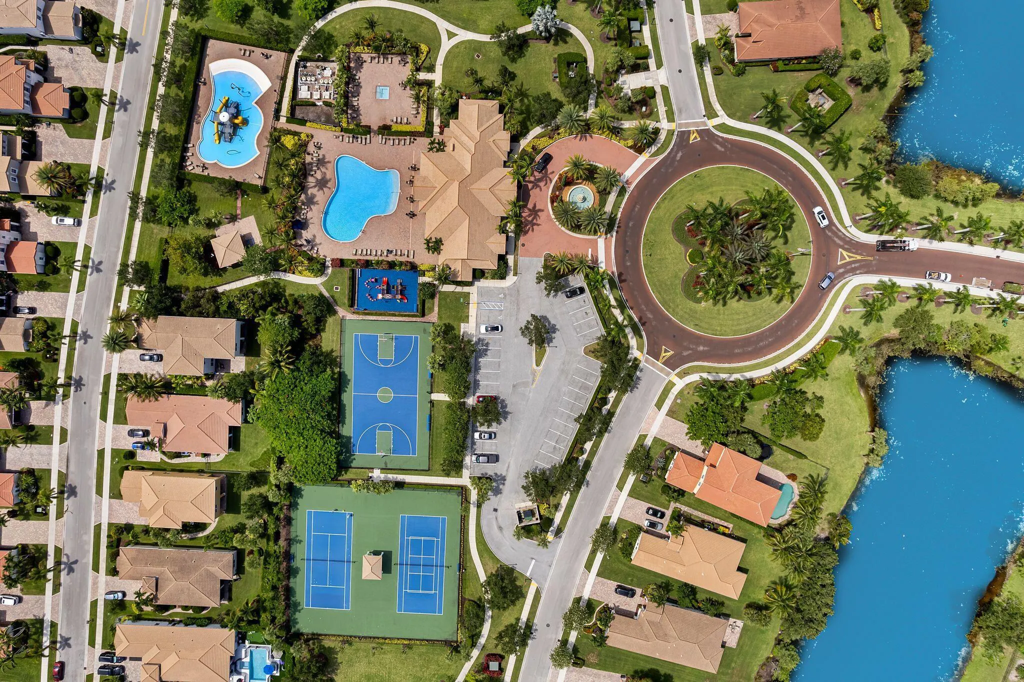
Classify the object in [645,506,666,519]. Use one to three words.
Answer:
vehicle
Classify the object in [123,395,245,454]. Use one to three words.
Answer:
house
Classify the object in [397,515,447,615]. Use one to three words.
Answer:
tennis court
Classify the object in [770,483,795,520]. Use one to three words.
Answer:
swimming pool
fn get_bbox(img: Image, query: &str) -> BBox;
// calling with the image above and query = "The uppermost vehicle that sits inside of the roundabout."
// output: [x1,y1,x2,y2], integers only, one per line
[812,206,829,228]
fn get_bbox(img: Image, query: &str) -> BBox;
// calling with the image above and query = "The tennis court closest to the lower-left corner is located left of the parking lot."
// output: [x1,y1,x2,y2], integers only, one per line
[304,510,353,610]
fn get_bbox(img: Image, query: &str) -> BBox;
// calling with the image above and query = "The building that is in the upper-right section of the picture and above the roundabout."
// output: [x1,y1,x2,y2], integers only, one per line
[733,0,841,64]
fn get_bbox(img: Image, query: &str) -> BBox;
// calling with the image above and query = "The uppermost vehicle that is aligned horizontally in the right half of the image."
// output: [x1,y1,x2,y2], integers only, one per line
[870,239,917,252]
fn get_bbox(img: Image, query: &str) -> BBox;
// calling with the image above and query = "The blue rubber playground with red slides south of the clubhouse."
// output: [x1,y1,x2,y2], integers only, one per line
[355,269,418,313]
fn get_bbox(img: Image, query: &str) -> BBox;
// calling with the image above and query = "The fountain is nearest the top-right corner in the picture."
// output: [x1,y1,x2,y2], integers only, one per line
[569,185,595,211]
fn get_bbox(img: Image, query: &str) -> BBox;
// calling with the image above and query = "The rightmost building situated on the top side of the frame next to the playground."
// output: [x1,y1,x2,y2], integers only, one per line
[413,97,517,281]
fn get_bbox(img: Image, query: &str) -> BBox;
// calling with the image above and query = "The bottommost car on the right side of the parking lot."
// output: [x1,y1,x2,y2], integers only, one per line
[615,584,635,597]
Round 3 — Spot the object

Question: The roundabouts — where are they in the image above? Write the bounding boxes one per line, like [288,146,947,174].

[612,126,1024,376]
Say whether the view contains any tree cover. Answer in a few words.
Yes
